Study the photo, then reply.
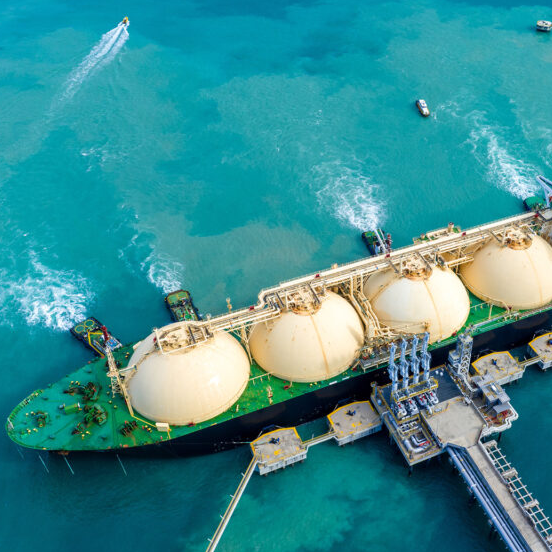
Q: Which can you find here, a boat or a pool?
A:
boat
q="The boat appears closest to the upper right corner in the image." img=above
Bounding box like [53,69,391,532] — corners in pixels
[413,96,431,115]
